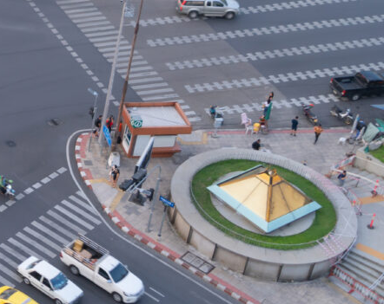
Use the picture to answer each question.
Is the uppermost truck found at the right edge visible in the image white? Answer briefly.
No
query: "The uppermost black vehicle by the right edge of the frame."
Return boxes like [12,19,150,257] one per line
[330,66,384,99]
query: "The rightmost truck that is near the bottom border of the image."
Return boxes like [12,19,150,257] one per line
[62,232,145,301]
